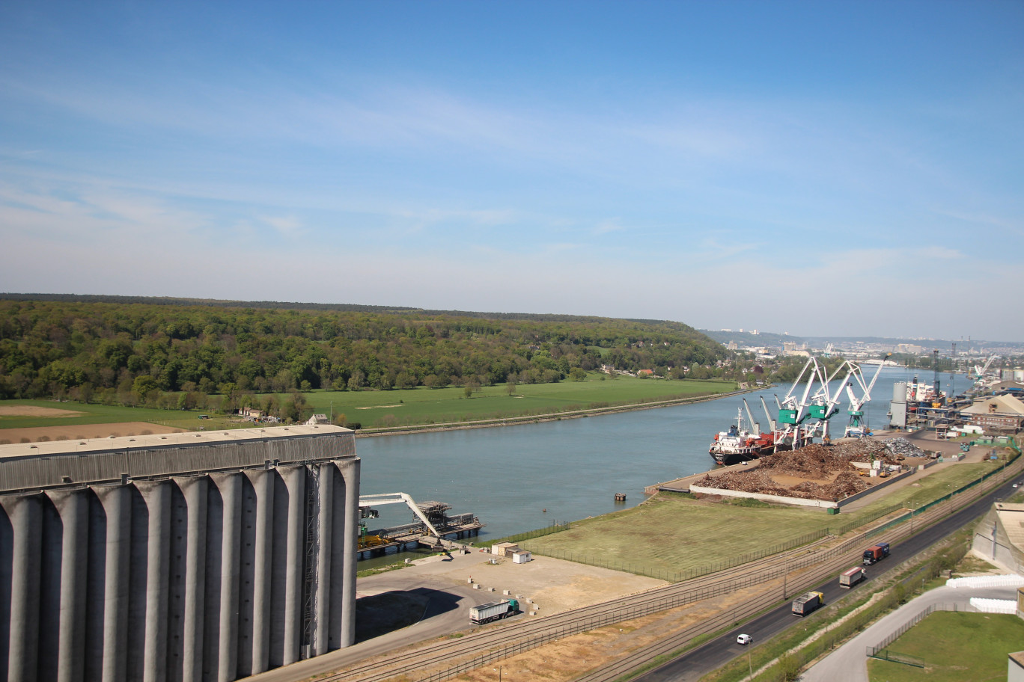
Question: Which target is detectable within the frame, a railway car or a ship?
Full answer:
This aerial view contains a ship.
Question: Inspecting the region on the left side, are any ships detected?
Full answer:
No, on the left side there is no ship.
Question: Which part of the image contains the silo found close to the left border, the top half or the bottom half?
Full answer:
It is in the bottom half that the silo found close to the left border appears.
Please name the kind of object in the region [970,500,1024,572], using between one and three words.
hangar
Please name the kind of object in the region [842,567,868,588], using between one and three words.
truck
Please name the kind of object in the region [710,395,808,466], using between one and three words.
ship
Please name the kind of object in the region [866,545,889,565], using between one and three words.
vehicle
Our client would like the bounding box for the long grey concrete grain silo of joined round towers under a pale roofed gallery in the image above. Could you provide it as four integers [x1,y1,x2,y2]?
[0,421,360,682]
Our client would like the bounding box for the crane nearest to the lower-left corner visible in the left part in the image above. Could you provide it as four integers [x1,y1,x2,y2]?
[357,491,443,555]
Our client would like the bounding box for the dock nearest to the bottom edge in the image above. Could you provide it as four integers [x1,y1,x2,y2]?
[357,523,489,564]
